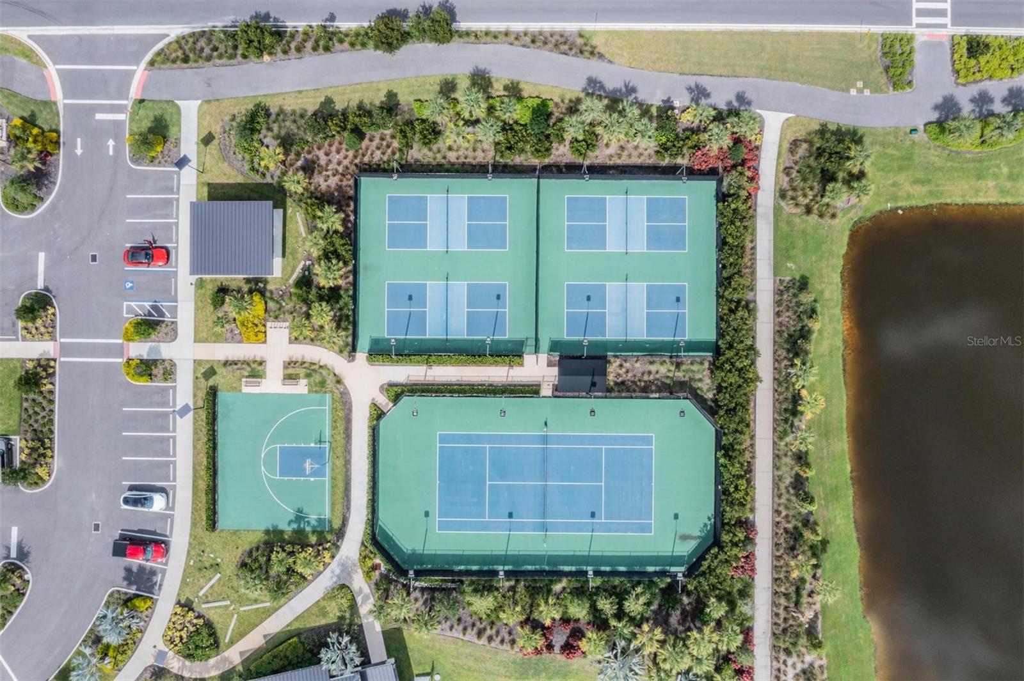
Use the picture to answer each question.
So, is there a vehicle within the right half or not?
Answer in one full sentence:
No, I see no vehicle within the right half.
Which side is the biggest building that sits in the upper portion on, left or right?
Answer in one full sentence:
The biggest building that sits in the upper portion appears in the left half of the scene.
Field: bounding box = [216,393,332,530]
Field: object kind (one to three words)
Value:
basketball court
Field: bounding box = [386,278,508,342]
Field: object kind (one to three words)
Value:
sports court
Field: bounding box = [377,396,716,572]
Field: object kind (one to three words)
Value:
tennis court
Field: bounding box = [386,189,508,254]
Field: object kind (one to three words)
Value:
sports court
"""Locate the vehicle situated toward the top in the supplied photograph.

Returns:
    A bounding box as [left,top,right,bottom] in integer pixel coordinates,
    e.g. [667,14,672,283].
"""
[122,240,169,268]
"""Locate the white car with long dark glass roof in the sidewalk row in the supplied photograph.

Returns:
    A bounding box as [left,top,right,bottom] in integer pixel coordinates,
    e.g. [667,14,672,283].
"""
[120,494,167,516]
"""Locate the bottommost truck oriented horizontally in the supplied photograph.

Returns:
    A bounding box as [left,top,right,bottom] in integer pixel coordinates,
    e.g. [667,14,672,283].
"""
[108,541,167,567]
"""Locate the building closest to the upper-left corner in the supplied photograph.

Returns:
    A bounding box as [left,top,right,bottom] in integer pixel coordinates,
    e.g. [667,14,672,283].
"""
[190,201,283,277]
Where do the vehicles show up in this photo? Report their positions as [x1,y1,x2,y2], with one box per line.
[122,240,169,268]
[120,494,167,516]
[108,541,167,567]
[0,442,12,488]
